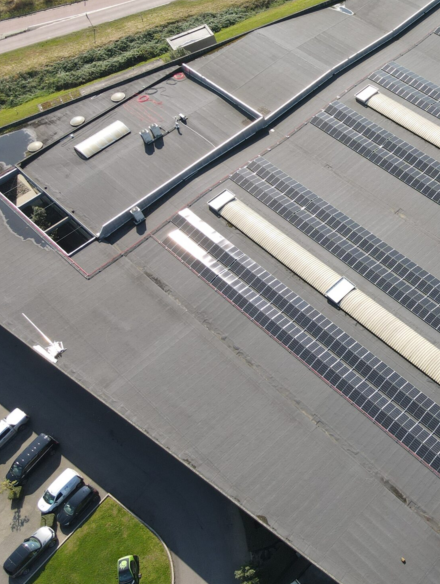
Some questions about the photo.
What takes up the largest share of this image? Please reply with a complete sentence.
The scene is dominated by buildings.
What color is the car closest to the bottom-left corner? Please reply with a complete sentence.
From above, the car closest to the bottom-left corner appears black.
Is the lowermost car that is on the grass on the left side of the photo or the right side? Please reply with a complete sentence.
You can find the lowermost car that is on the grass on the left side of the picture.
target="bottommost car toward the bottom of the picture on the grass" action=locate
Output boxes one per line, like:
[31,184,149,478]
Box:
[116,548,142,584]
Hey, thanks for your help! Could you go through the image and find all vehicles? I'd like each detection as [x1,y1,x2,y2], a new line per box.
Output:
[39,467,89,512]
[3,434,63,486]
[0,409,32,447]
[116,548,142,584]
[0,530,58,582]
[56,486,103,530]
